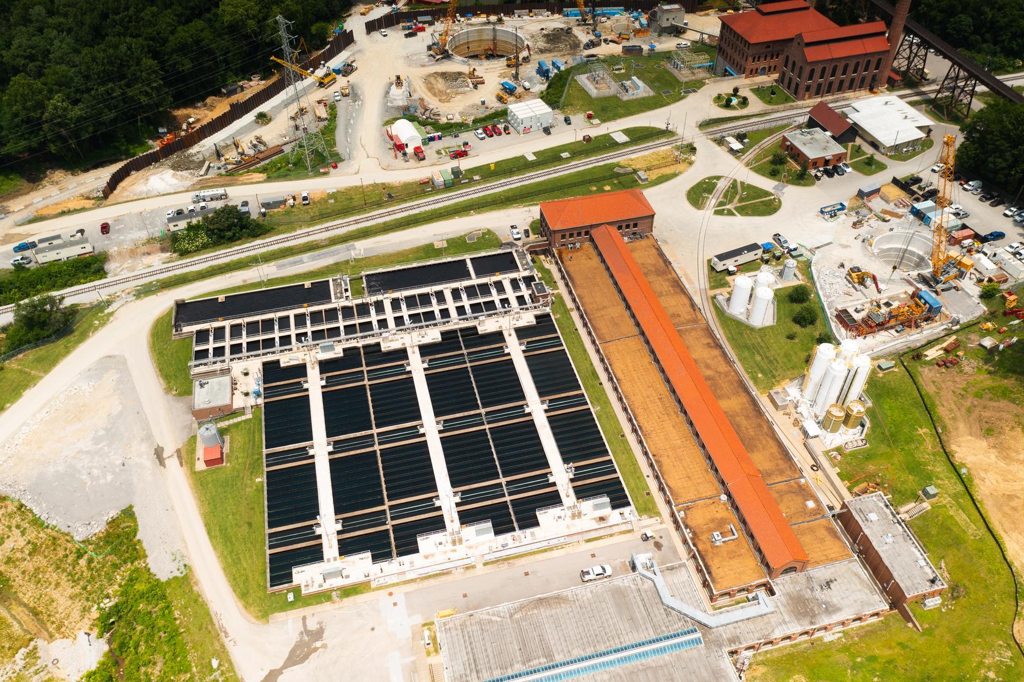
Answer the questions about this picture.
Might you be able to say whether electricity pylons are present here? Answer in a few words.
Yes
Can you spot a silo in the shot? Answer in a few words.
Yes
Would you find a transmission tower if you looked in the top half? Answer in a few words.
Yes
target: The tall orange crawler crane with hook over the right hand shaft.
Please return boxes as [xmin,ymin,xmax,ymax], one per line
[893,133,978,294]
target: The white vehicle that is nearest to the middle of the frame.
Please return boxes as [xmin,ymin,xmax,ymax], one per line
[509,225,521,239]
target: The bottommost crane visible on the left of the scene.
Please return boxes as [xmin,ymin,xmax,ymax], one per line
[270,57,345,86]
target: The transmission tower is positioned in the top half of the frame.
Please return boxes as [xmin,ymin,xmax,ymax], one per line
[264,16,329,174]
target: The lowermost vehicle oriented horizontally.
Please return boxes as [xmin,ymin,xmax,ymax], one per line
[580,565,613,581]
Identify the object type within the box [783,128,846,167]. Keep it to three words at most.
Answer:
building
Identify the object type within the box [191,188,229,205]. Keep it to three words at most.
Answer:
vehicle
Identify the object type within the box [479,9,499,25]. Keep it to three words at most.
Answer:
work vehicle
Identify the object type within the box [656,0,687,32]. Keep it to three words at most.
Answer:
house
